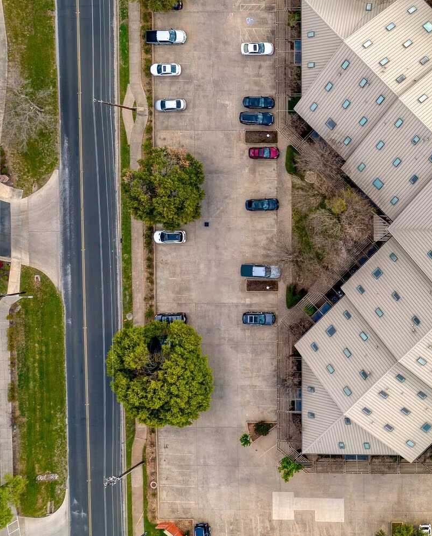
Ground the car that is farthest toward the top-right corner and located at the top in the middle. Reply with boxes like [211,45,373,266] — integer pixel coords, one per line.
[241,40,274,56]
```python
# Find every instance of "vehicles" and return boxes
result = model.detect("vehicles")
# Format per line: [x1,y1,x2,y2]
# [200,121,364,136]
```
[156,96,189,112]
[419,522,432,536]
[241,40,274,56]
[240,264,282,280]
[154,311,189,325]
[242,311,276,326]
[243,94,276,110]
[245,197,280,212]
[151,61,184,77]
[248,145,281,160]
[145,28,188,45]
[152,0,186,13]
[154,229,189,245]
[239,110,275,125]
[194,521,212,536]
